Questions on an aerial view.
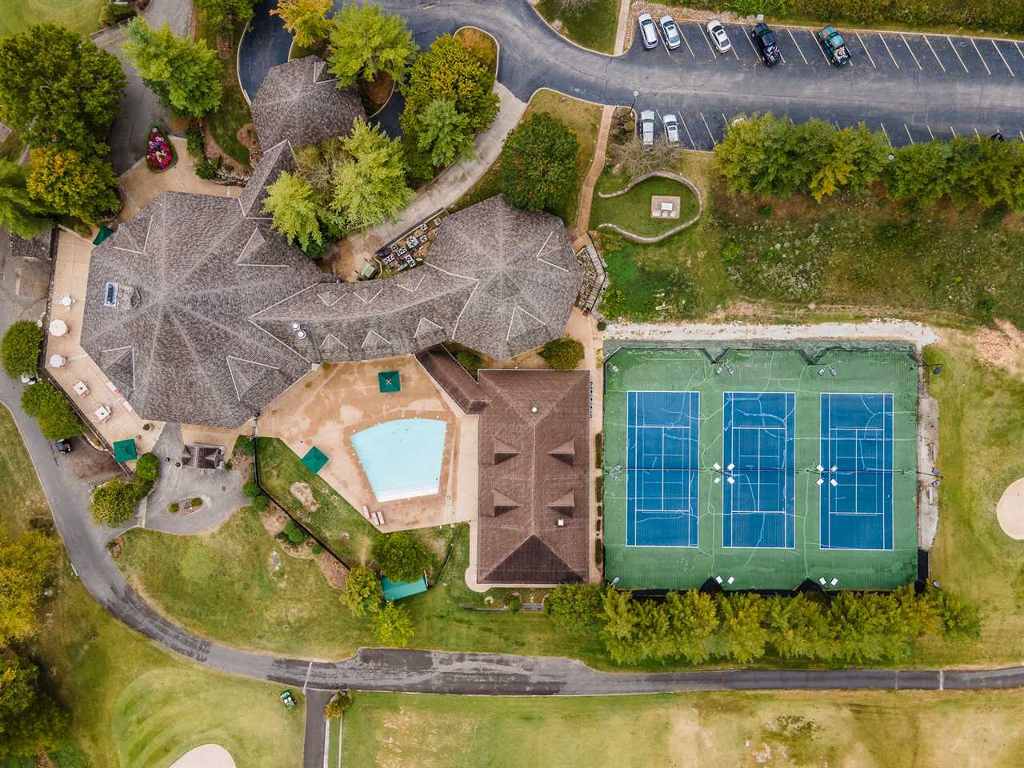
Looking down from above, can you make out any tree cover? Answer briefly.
Yes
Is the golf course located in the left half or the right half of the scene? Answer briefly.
left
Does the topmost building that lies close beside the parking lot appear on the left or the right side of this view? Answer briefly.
left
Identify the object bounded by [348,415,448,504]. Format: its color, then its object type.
white swimming pool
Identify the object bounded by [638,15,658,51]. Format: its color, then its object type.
white vehicle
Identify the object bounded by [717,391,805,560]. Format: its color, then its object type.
blue tennis court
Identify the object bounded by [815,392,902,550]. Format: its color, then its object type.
blue tennis court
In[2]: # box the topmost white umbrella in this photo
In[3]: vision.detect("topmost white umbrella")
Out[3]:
[49,318,70,336]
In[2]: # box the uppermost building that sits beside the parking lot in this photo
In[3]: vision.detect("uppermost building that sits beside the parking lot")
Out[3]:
[79,54,584,429]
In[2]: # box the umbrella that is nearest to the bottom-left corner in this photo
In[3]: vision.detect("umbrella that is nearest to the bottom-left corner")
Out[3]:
[113,438,138,462]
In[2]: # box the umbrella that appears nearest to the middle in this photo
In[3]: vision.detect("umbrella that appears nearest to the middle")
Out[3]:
[379,371,400,392]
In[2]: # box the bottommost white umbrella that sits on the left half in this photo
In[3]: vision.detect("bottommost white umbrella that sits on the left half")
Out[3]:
[49,354,66,369]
